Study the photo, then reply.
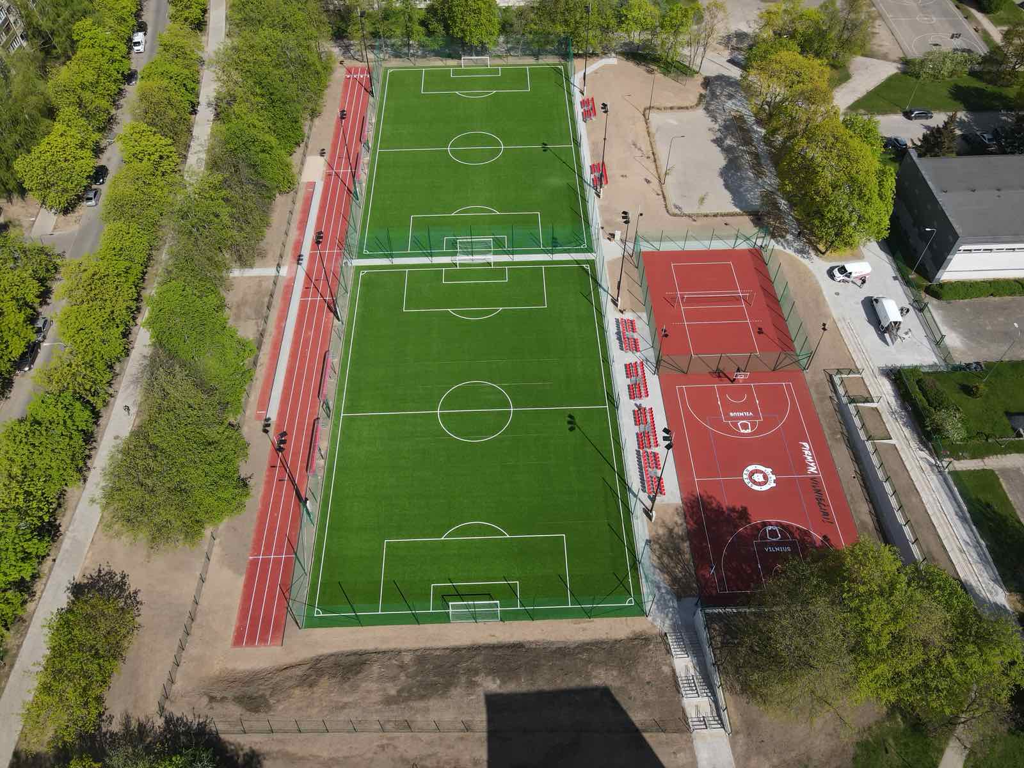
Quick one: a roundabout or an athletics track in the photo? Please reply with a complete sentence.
I can see an athletics track in this picture.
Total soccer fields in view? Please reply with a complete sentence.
The count of soccer fields comes to 2.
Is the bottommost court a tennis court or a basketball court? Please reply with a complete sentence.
Looking closely, the bottommost court is a basketball court.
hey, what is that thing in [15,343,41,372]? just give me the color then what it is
black car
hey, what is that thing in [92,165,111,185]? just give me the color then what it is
black car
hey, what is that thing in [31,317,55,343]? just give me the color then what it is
gray car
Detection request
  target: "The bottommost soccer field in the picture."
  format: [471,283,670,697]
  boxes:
[301,260,647,628]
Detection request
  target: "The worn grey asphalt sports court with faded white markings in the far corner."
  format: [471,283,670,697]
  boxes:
[874,0,986,58]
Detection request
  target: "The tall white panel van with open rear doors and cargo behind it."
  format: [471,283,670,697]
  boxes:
[873,303,909,342]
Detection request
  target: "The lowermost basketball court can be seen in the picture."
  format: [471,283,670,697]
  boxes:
[658,370,879,608]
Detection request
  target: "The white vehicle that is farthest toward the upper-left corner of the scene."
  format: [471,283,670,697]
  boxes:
[130,31,148,52]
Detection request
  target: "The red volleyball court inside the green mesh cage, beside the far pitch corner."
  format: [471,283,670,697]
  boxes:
[639,248,804,374]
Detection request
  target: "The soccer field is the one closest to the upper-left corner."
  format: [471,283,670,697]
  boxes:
[355,62,595,259]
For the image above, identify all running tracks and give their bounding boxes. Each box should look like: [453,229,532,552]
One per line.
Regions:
[231,67,371,647]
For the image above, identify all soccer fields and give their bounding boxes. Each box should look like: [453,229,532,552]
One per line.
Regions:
[355,62,595,259]
[301,260,647,628]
